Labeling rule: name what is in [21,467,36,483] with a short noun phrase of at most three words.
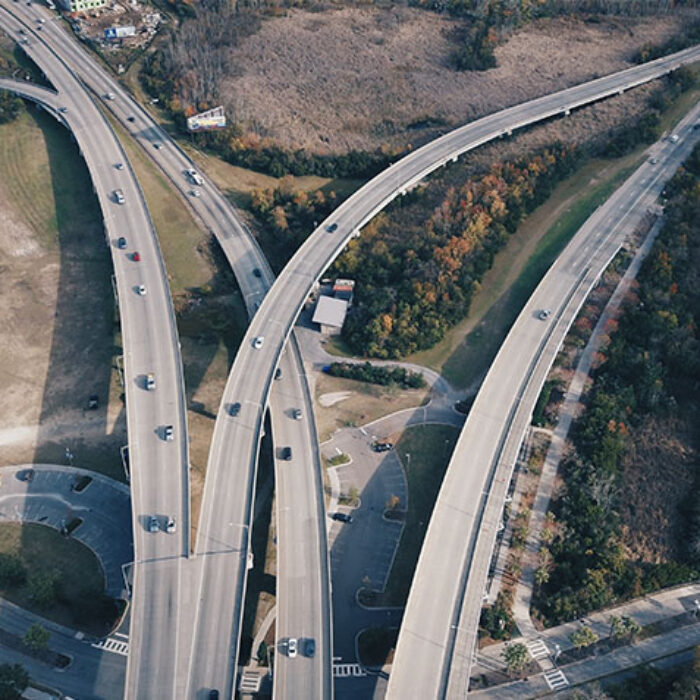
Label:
car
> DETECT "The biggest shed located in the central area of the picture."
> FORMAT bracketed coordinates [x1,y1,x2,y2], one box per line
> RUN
[312,295,348,338]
